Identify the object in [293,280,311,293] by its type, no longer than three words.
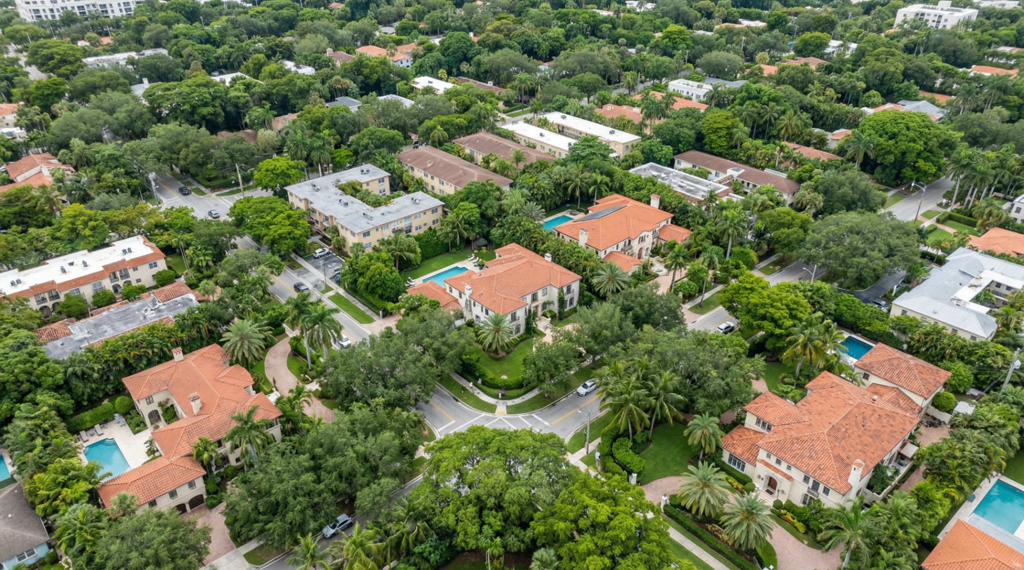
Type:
vehicle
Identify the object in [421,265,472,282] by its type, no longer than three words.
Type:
swimming pool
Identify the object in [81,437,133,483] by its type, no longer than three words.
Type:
swimming pool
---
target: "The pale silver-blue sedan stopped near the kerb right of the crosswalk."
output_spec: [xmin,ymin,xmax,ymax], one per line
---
[577,376,604,395]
